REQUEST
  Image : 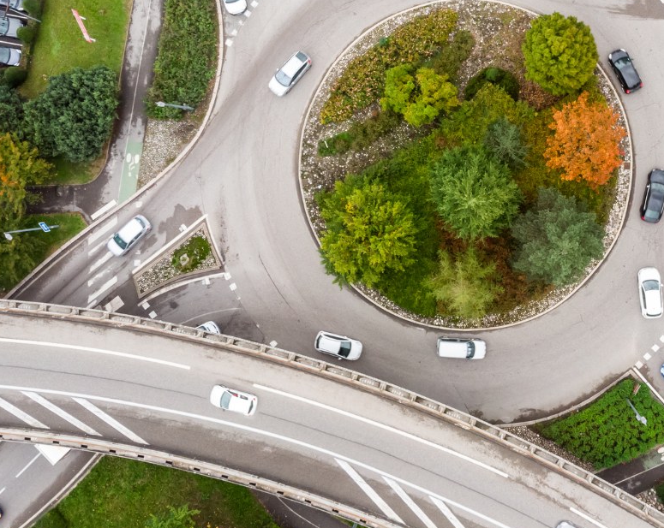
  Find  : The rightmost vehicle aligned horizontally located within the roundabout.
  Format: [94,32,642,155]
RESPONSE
[437,336,486,362]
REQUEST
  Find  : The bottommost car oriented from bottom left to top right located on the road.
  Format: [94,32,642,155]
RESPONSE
[107,212,157,259]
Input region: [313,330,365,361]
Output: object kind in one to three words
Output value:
car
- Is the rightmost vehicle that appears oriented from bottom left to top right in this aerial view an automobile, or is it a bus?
automobile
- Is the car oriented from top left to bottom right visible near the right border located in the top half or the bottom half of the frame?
top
